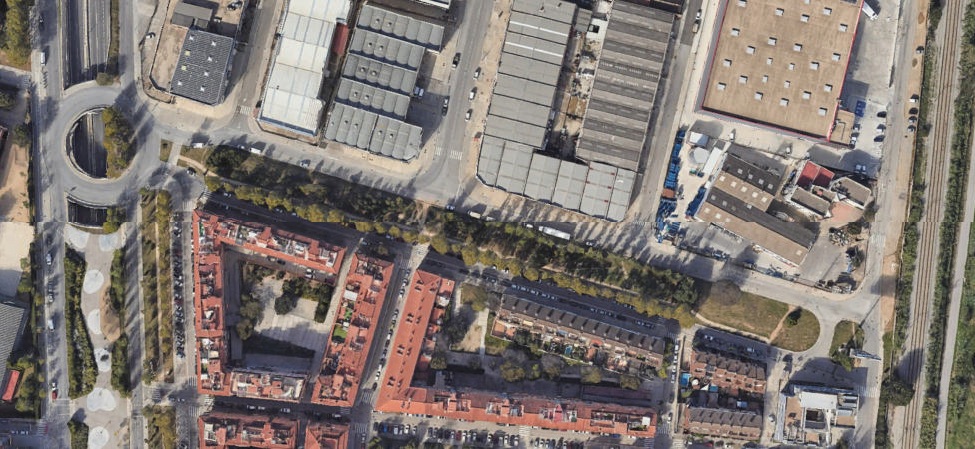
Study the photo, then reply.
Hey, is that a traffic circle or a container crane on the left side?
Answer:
traffic circle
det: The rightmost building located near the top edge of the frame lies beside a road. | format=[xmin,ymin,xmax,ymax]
[694,0,865,147]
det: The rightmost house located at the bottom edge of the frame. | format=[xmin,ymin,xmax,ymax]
[771,381,859,447]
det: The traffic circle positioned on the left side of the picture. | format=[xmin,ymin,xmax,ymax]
[41,71,161,225]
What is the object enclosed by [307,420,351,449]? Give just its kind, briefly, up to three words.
building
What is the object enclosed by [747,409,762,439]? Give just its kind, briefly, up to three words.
house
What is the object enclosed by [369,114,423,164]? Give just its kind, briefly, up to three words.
shed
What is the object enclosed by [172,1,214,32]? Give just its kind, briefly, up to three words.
shed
